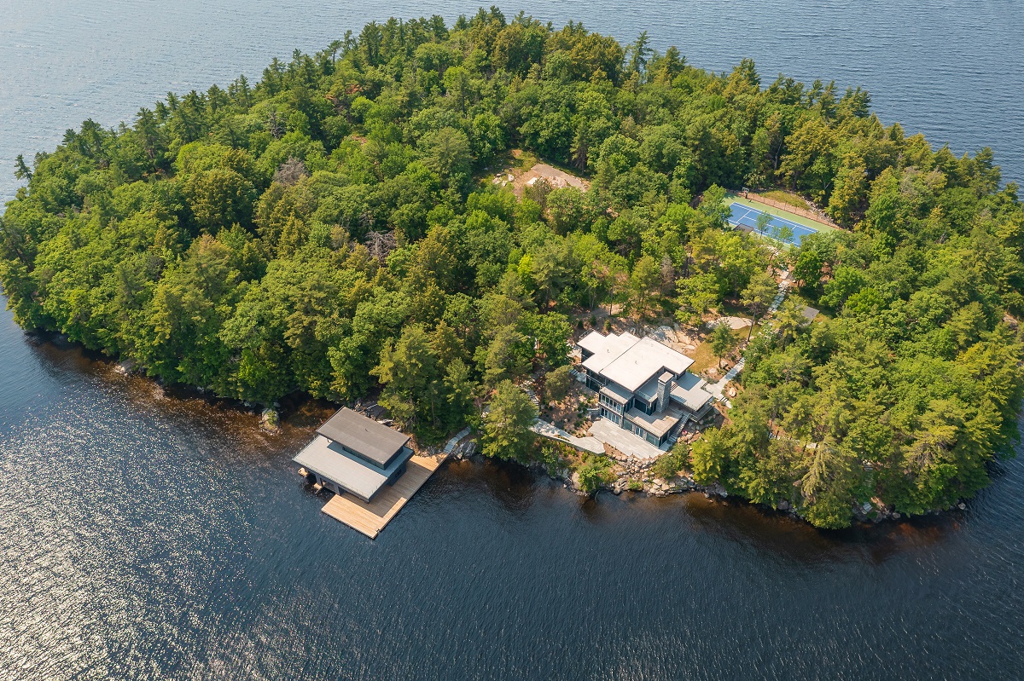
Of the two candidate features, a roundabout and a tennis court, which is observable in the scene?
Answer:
tennis court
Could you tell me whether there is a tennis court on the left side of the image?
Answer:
No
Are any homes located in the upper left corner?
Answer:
No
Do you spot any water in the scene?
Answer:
Yes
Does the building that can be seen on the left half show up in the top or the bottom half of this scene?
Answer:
bottom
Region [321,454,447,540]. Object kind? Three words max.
pier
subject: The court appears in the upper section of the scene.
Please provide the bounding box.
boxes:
[705,192,835,256]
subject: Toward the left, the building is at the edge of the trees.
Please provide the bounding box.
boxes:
[292,407,413,501]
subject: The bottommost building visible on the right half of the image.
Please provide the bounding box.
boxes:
[573,331,725,447]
